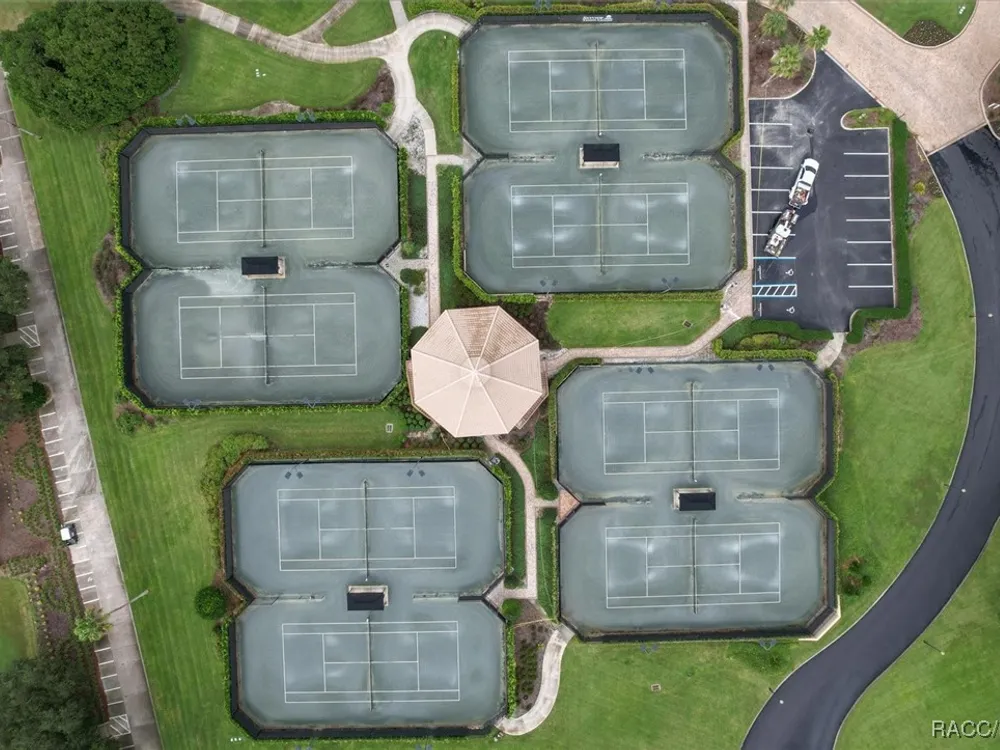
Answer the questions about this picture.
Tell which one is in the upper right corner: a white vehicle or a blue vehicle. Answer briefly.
white vehicle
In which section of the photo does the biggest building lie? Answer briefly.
center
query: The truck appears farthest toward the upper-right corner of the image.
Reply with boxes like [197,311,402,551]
[790,158,819,209]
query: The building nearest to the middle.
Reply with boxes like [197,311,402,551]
[406,305,548,438]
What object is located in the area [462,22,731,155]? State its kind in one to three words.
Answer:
tennis court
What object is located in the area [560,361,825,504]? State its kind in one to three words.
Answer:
tennis court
